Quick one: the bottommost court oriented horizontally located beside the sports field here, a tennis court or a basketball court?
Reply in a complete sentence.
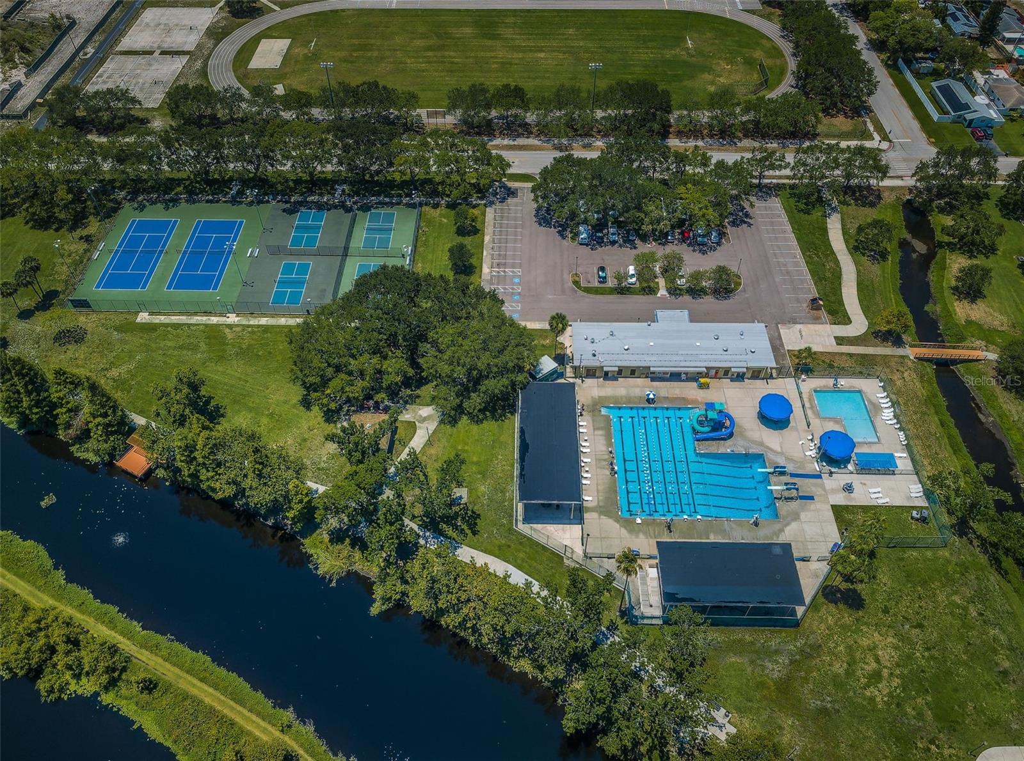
The bottommost court oriented horizontally located beside the sports field is a basketball court.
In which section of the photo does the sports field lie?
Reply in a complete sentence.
The sports field is in the top part of the image.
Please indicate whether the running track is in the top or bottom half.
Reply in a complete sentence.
Seen from above, the running track lies in the top half of the view.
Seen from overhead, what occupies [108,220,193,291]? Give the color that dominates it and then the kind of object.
blue tennis court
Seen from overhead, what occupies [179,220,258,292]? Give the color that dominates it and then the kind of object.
blue tennis court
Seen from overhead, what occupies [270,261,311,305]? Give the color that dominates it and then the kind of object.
blue sports court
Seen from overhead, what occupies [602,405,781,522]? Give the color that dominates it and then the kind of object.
blue swimming pool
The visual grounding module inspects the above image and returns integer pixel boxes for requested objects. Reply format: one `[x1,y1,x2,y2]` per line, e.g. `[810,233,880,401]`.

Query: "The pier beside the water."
[115,431,165,477]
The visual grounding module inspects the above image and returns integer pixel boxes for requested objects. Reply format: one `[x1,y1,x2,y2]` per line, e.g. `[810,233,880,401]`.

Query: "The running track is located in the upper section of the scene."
[206,0,813,125]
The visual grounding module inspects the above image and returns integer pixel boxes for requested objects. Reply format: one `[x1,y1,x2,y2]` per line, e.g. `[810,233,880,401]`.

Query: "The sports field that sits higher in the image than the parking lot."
[233,8,788,110]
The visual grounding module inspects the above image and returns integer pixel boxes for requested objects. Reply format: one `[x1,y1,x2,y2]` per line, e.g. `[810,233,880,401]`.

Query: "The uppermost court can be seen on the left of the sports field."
[116,7,219,50]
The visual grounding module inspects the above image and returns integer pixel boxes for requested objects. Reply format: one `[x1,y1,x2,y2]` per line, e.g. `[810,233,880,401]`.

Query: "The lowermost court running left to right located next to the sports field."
[80,55,189,107]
